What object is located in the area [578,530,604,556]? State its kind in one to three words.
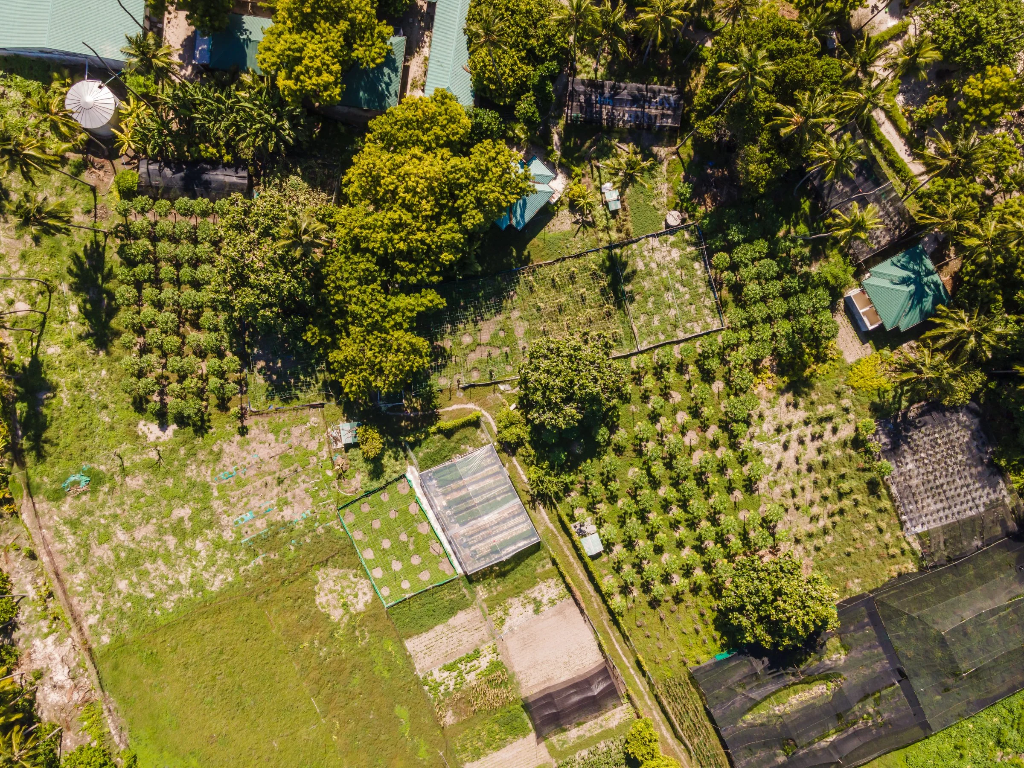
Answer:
shed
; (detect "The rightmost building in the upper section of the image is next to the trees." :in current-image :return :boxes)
[854,242,954,331]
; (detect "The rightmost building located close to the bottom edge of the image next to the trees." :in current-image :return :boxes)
[872,532,1024,745]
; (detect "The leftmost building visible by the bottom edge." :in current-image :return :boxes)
[691,596,932,768]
